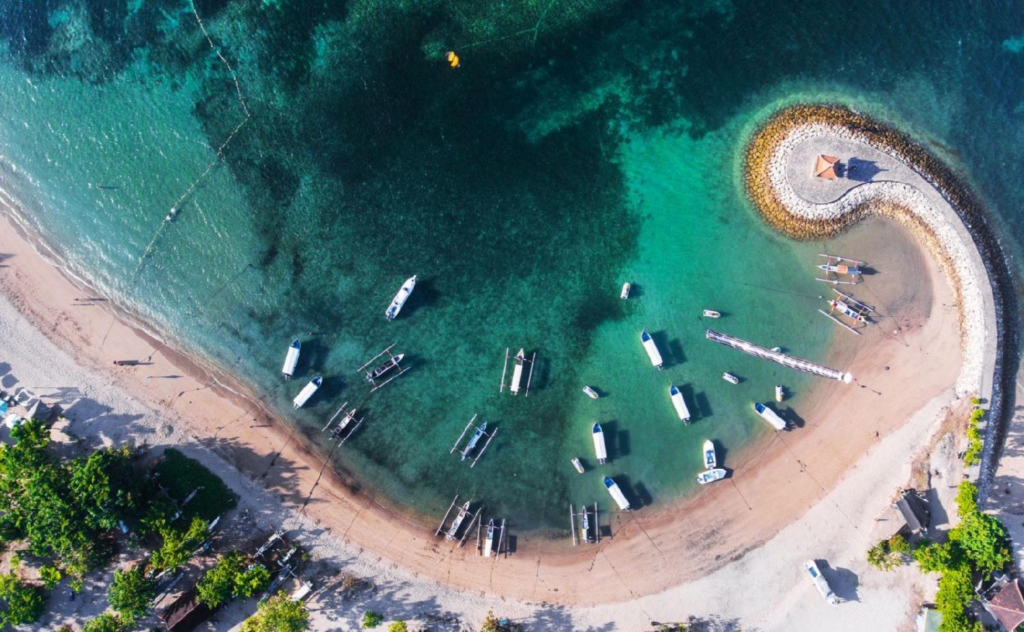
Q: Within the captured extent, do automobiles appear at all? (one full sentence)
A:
No, the photo shows no automobile.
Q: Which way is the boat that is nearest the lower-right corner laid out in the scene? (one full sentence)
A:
The boat that is nearest the lower-right corner has been laid out diagonally relative to the frame.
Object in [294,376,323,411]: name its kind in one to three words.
boat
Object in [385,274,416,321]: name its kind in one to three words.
boat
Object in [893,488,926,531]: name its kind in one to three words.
shed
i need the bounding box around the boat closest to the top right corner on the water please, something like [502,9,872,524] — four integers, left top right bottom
[818,254,864,284]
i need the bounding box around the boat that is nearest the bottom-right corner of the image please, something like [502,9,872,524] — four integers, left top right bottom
[807,565,841,609]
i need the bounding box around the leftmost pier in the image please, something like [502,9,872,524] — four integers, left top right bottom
[707,330,844,381]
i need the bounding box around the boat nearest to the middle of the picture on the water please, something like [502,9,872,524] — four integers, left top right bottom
[501,349,536,396]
